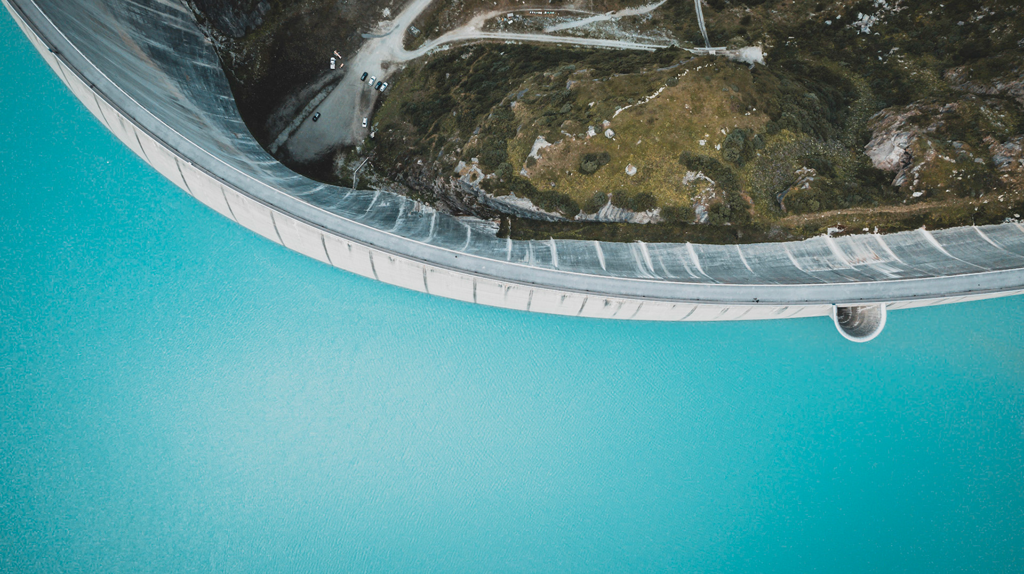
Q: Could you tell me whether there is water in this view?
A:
Yes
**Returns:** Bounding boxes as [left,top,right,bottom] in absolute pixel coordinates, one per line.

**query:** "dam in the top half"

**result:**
[3,0,1024,321]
